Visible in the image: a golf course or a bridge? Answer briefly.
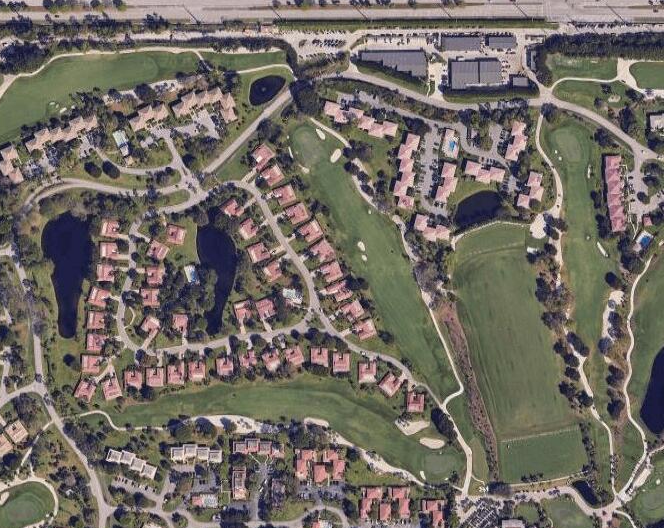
golf course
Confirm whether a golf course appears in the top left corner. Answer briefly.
Yes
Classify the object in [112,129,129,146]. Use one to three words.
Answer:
swimming pool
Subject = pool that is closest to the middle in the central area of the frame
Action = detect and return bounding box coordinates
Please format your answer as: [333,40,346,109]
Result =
[282,290,302,305]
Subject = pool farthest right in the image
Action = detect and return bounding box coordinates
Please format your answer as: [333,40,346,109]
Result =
[636,229,656,253]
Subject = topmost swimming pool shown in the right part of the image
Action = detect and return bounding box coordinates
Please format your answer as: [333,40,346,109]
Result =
[444,130,460,158]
